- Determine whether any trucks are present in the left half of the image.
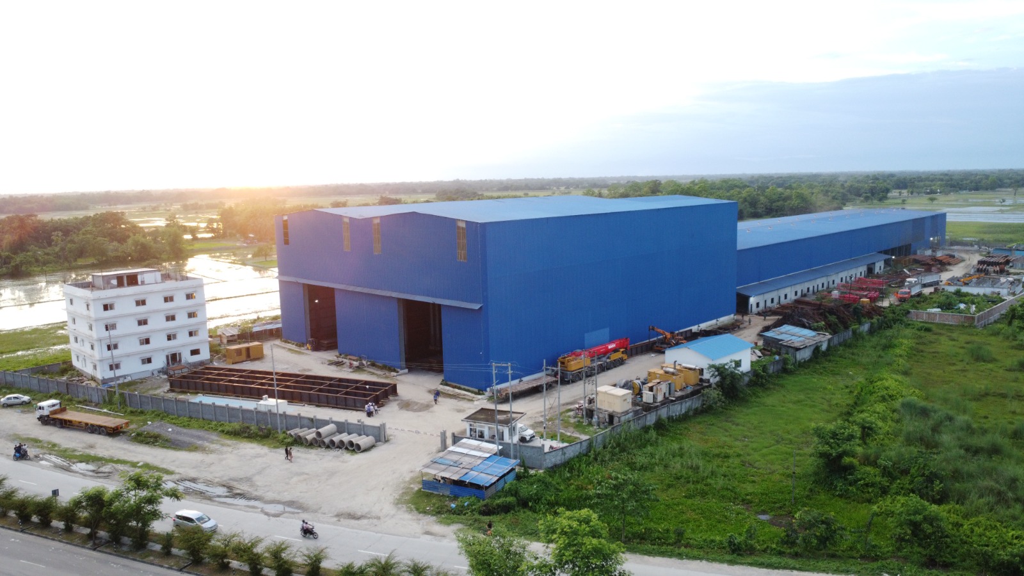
Yes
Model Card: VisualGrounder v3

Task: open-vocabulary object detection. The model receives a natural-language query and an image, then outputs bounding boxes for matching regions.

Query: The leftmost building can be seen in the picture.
[63,263,210,379]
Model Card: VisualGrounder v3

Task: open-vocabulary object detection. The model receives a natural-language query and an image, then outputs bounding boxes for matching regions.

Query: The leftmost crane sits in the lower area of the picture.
[549,334,633,384]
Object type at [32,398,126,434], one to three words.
truck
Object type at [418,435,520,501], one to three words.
shed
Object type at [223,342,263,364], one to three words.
building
